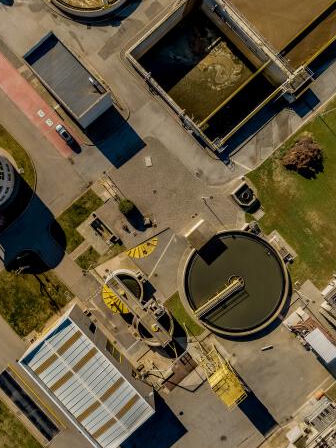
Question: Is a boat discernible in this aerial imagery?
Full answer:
No, there isn't any boat down there.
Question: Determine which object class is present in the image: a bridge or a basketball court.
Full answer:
It is a bridge that can be seen here.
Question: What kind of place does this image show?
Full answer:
The picture captures an industrial area.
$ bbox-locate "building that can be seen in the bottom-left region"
[19,304,156,448]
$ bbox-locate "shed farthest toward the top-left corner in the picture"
[24,32,113,127]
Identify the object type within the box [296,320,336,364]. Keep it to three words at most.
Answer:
shed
